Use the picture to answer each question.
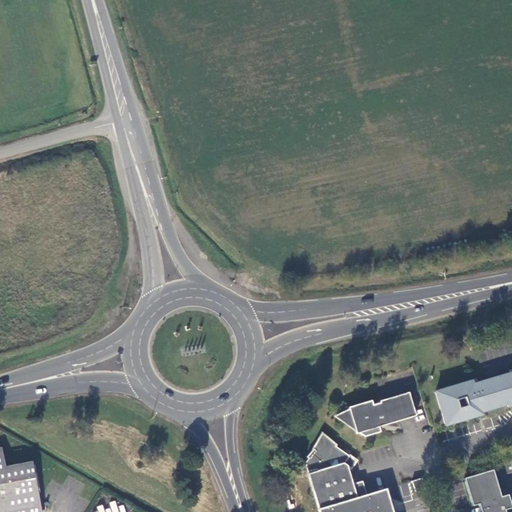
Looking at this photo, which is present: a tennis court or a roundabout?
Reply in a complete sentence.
The image shows a roundabout.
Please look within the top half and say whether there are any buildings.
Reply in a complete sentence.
No, the scene shows no building within the top half.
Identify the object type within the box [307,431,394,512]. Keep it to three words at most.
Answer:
building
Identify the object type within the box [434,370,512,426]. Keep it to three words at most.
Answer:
building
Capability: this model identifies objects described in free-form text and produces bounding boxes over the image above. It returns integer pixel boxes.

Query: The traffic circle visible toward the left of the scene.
[124,281,262,419]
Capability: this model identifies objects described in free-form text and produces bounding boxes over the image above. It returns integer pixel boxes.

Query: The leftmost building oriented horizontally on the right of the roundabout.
[334,391,416,436]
